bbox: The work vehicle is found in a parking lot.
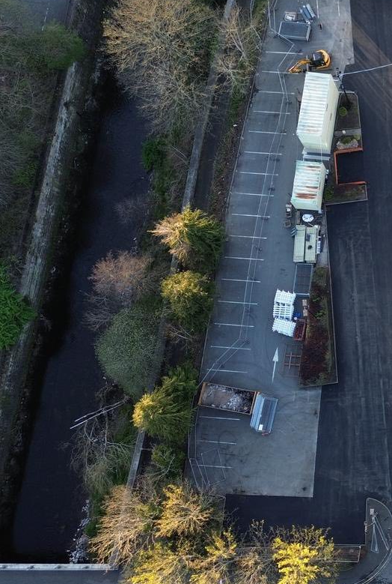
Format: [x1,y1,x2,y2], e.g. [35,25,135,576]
[288,54,332,78]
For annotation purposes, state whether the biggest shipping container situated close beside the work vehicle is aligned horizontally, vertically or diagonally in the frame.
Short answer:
vertically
